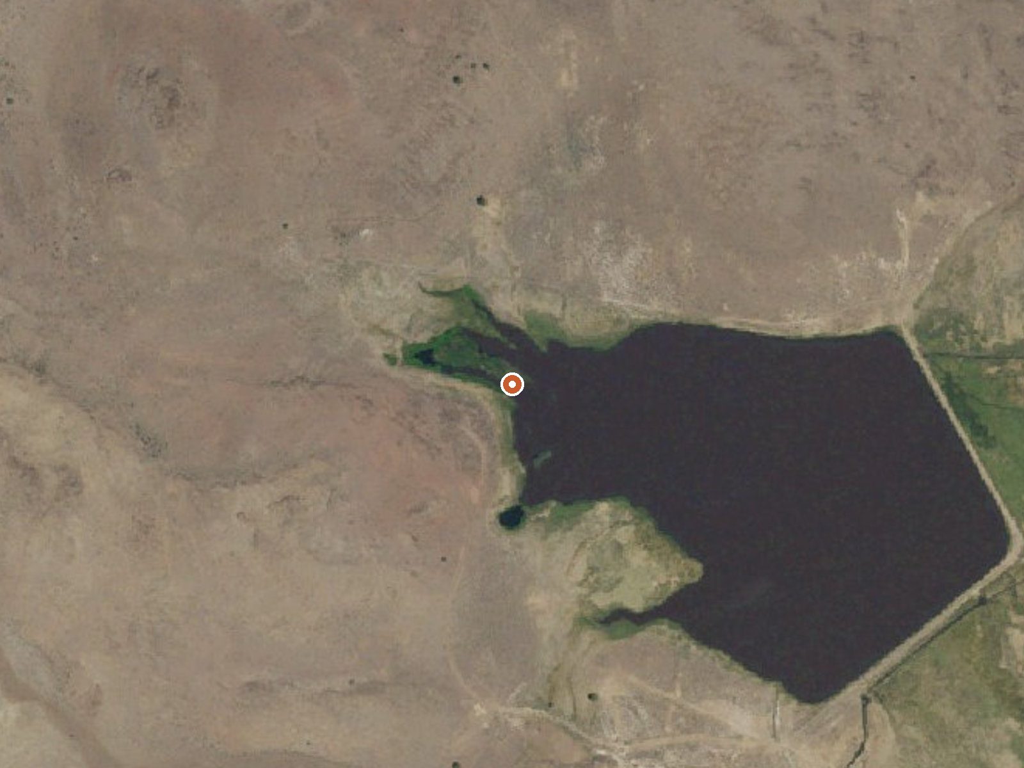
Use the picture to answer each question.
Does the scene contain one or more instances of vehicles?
No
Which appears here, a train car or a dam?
dam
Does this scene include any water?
Yes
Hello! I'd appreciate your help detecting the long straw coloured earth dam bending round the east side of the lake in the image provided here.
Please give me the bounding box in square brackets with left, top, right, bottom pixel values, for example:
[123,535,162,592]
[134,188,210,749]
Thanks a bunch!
[833,323,1020,697]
